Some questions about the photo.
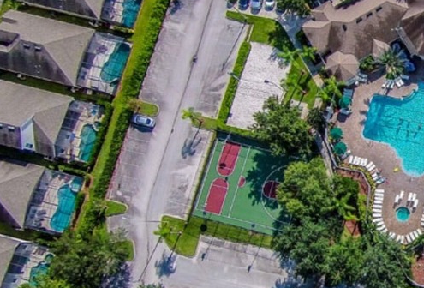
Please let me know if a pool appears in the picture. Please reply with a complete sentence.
Yes, there is a pool in the image.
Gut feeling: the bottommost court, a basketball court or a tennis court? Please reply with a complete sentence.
The bottommost court can be classified as a basketball court.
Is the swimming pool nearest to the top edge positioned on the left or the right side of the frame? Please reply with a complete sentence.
It is on the left.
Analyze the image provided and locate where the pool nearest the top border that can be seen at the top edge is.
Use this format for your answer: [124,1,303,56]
[121,0,146,27]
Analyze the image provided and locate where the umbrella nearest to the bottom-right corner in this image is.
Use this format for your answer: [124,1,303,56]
[334,141,348,155]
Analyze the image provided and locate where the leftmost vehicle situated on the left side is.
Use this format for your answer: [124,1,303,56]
[133,115,154,128]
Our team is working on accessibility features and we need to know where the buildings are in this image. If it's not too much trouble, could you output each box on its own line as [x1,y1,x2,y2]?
[0,11,101,87]
[0,238,27,288]
[303,0,424,60]
[27,0,113,21]
[0,80,79,156]
[0,157,51,228]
